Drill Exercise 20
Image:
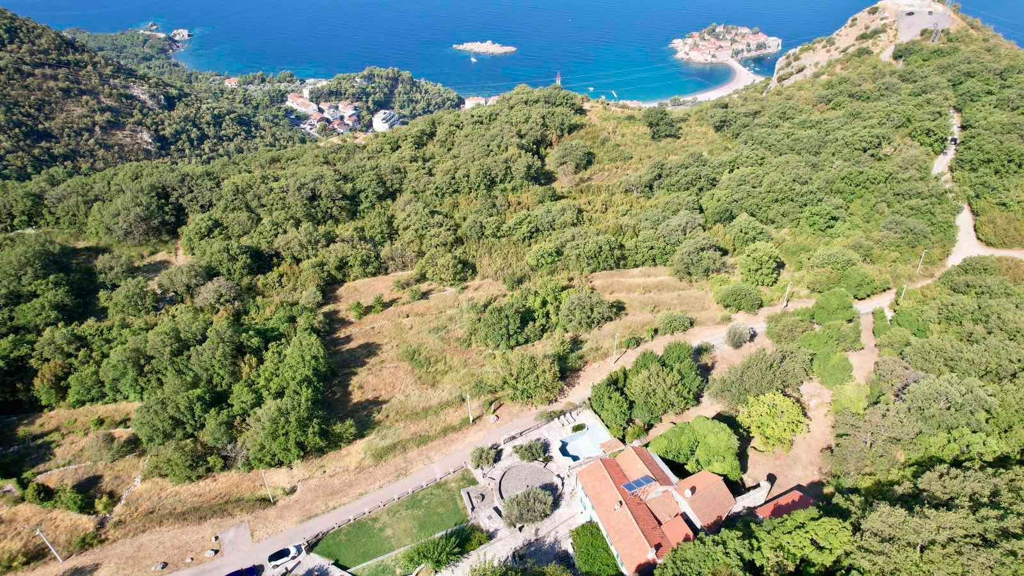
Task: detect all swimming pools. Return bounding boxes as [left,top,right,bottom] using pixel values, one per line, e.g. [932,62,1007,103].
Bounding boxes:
[557,416,613,463]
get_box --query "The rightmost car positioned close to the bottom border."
[267,546,299,568]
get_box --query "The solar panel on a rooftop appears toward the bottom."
[621,475,656,499]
